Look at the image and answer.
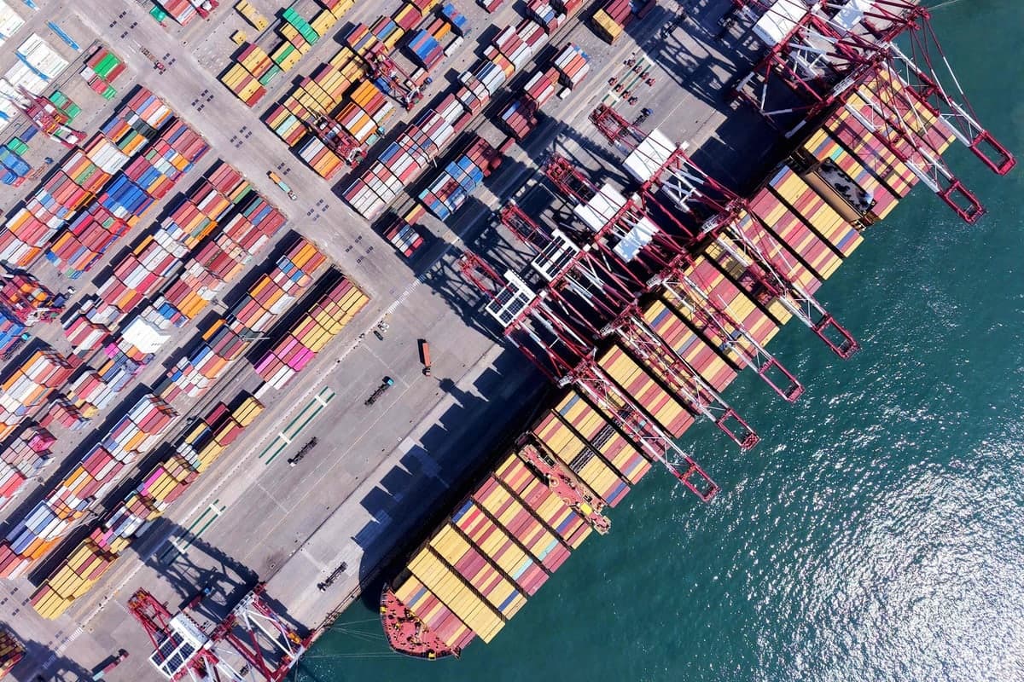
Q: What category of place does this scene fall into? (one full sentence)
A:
This image shows a port.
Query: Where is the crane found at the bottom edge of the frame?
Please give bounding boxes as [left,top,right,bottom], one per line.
[128,584,308,682]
